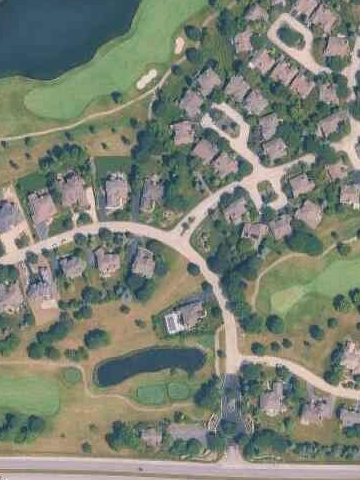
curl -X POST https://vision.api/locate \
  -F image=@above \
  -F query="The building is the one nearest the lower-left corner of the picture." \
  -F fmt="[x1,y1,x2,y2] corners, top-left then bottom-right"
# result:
[140,425,164,446]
